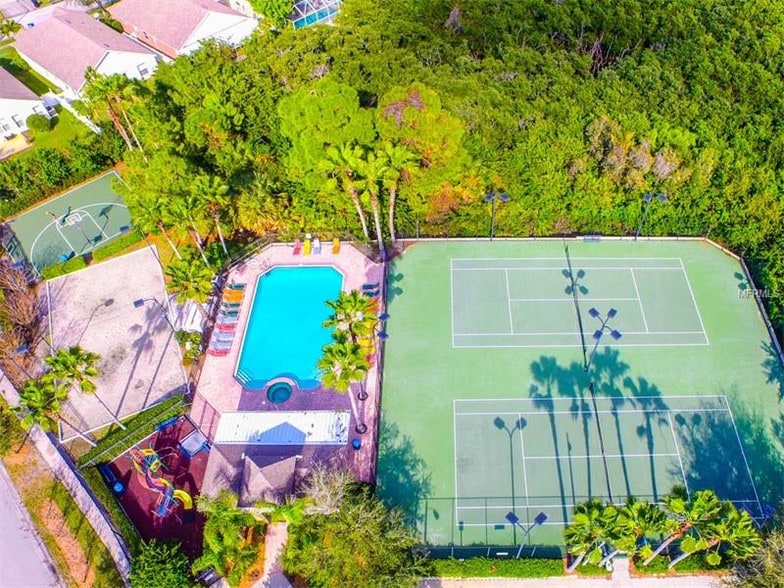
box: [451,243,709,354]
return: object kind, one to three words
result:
tennis court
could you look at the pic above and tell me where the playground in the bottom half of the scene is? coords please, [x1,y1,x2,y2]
[119,436,196,519]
